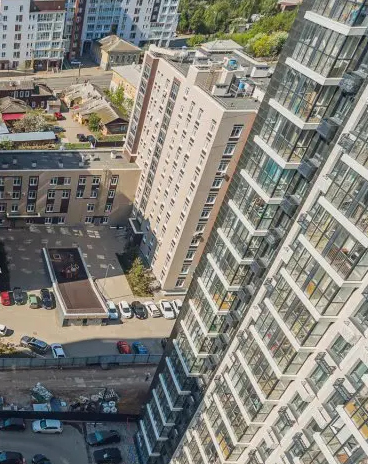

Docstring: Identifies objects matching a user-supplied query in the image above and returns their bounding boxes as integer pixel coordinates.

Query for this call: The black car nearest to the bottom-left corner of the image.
[0,450,22,464]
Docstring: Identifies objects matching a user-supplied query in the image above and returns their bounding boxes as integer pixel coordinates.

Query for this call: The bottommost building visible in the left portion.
[43,246,109,327]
